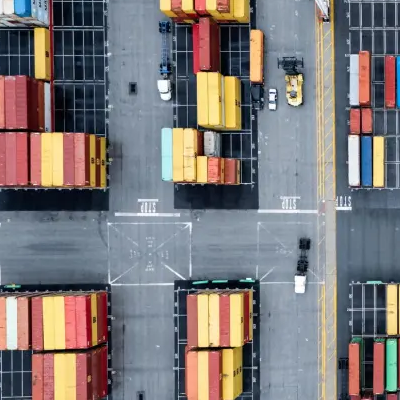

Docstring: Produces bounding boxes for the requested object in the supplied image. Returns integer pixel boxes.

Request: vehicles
[268,88,275,110]
[248,75,262,109]
[157,20,173,100]
[291,239,307,294]
[276,58,303,105]
[337,357,348,400]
